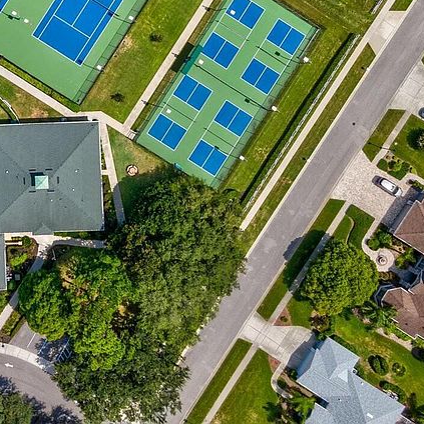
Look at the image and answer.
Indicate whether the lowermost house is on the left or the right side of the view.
right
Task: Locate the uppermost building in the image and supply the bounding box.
[0,120,105,236]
